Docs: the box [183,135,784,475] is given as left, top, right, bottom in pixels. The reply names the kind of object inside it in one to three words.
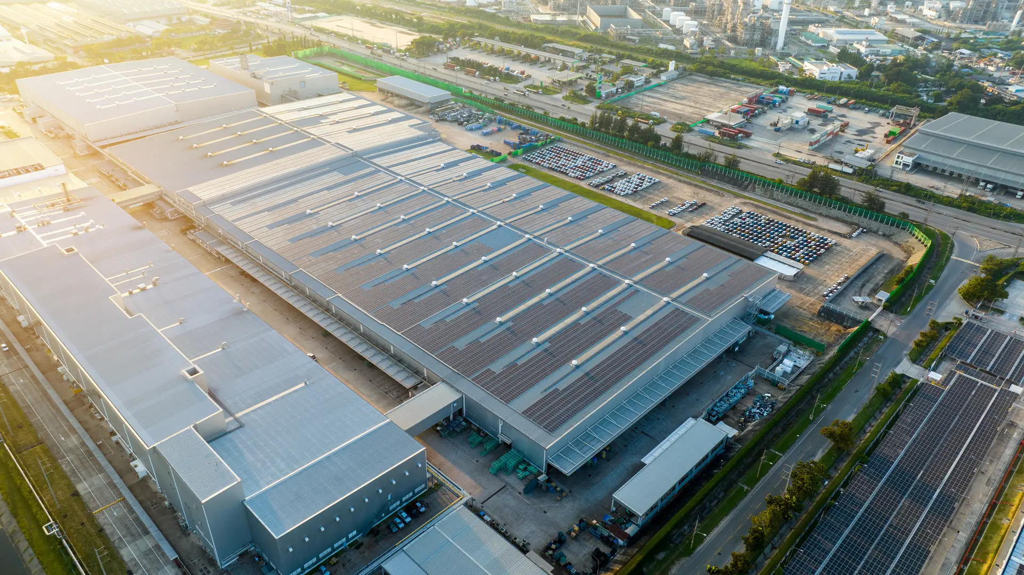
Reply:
warehouse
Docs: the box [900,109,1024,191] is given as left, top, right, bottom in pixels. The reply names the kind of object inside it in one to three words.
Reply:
building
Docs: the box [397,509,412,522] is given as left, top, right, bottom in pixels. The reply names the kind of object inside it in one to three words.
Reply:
vehicle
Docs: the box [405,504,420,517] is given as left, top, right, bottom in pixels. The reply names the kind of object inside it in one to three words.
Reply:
vehicle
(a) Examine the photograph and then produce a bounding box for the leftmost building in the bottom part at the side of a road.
[0,182,428,575]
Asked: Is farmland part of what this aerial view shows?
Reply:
No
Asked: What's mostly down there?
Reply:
buildings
